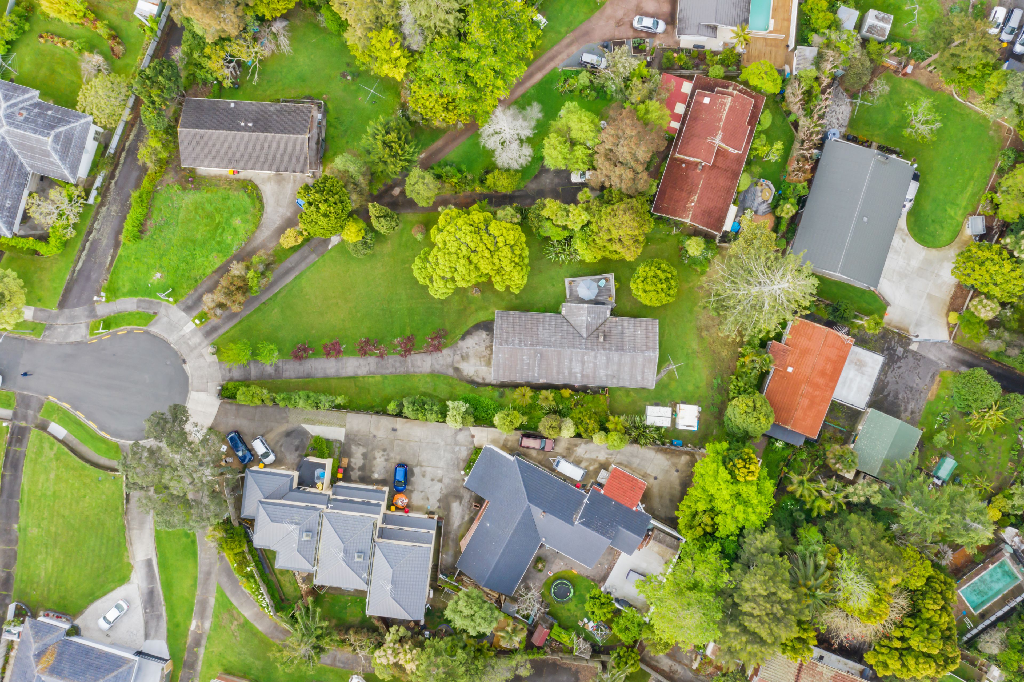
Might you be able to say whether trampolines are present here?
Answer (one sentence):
Yes, the picture does show a trampoline.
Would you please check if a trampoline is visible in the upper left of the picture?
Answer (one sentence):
No, there is no trampoline in the upper left of the picture.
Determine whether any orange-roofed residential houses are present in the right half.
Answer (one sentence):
Yes, I can see an orange-roofed residential house in the right half.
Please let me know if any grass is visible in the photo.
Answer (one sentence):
Yes, the picture does contain grass.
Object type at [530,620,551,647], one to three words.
shed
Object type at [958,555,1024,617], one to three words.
swimming pool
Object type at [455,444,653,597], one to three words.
house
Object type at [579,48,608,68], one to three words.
car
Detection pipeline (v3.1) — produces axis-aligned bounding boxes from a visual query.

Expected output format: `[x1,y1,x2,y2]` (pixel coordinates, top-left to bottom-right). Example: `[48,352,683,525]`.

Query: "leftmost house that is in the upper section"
[0,78,104,239]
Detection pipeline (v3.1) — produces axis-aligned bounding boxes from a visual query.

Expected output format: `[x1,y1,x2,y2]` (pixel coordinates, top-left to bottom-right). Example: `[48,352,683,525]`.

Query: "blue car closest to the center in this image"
[392,464,407,493]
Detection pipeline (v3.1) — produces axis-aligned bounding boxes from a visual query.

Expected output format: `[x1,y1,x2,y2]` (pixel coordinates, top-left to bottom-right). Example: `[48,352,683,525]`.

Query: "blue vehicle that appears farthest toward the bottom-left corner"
[225,431,250,465]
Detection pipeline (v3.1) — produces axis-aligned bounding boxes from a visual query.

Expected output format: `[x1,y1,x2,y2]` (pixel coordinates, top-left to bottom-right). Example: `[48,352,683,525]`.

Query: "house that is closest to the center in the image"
[492,303,659,389]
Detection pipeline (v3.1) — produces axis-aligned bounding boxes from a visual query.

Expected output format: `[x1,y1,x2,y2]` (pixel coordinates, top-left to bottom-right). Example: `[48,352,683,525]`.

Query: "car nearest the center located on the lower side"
[520,436,555,452]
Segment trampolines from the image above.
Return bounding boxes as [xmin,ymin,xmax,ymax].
[551,582,575,607]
